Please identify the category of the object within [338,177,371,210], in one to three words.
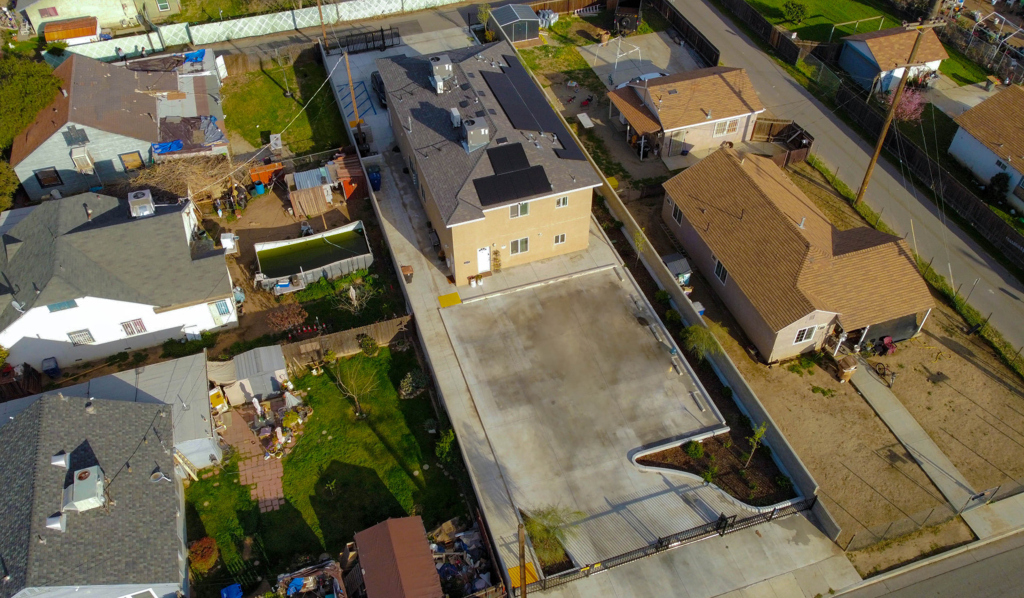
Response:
shed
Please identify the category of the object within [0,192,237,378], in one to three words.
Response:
house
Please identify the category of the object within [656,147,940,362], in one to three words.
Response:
house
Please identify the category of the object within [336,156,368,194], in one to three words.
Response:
shed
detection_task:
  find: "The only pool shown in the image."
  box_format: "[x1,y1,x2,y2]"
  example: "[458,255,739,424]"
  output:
[254,220,376,294]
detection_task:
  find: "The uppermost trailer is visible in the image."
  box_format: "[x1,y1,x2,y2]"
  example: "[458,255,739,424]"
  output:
[595,0,638,36]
